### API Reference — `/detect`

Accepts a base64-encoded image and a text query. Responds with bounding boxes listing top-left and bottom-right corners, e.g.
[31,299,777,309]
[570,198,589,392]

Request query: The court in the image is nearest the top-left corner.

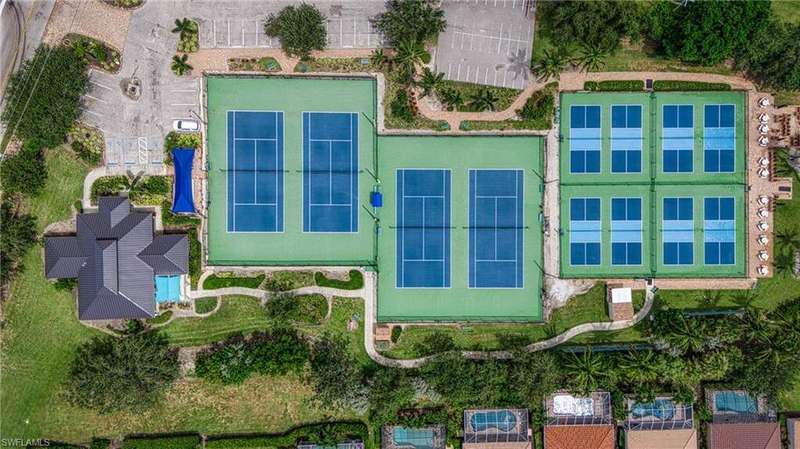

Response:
[220,110,288,233]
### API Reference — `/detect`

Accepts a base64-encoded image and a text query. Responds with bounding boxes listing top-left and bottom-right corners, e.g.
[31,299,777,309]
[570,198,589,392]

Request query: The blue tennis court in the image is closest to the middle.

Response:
[391,167,458,290]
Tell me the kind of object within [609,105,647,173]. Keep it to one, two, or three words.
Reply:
sports court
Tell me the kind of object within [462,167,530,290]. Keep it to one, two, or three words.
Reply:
tennis court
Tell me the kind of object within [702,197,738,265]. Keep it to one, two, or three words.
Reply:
sports court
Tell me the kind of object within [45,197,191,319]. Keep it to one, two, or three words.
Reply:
building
